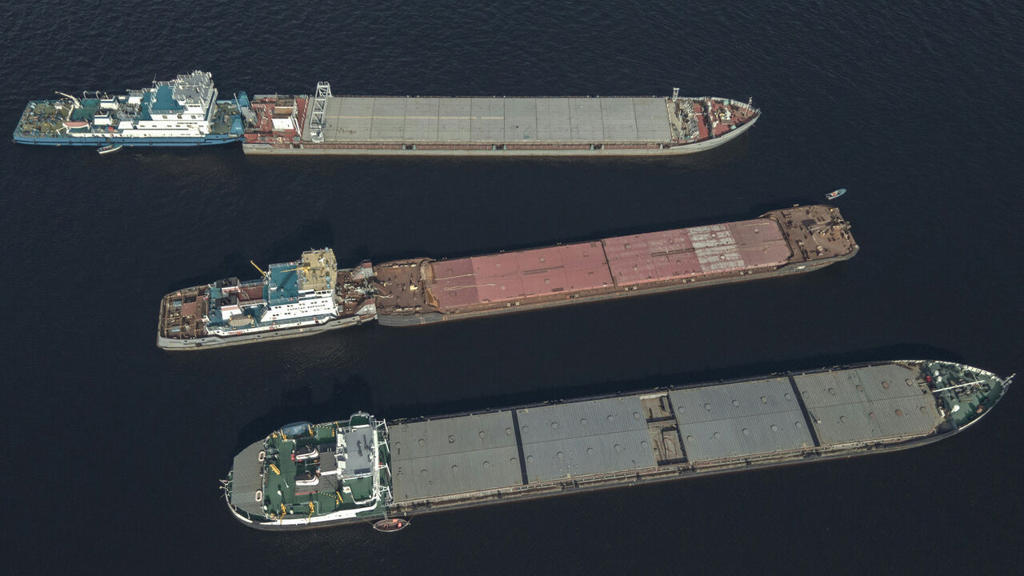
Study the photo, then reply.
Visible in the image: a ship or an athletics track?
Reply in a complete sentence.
This aerial view contains a ship.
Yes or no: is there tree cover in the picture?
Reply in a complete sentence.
No, tree cover can't be seen anywhere here.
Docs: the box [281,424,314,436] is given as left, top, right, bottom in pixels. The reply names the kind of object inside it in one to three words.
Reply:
boat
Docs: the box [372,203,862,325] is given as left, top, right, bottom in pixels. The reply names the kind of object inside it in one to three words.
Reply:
ship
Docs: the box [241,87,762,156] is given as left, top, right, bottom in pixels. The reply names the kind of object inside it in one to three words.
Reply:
ship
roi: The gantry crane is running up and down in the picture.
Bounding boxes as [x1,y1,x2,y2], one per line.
[309,80,334,144]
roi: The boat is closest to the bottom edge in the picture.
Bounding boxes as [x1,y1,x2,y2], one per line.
[373,518,409,531]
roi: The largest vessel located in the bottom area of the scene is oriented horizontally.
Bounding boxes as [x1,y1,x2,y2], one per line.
[219,361,1018,531]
